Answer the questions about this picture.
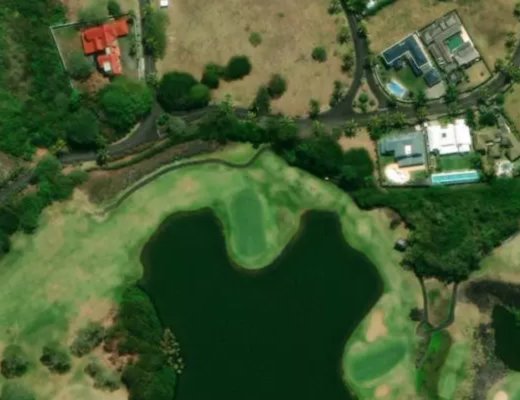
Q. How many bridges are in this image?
zero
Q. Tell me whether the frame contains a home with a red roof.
Yes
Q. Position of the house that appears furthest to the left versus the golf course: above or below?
above it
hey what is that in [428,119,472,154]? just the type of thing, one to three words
house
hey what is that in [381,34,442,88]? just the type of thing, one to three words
house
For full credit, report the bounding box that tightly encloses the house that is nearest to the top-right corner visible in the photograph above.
[419,13,481,71]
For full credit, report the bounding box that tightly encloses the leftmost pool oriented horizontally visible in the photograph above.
[431,169,480,185]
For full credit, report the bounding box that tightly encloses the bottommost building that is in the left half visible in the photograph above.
[82,19,129,76]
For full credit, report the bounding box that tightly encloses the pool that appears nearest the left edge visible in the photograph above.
[386,80,407,98]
